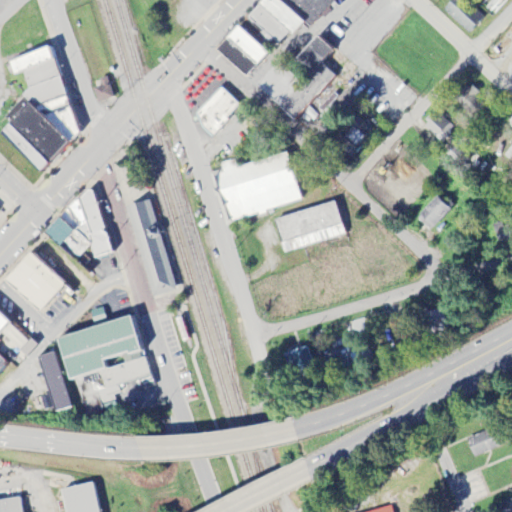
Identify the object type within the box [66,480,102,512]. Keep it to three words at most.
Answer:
building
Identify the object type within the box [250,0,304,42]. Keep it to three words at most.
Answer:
building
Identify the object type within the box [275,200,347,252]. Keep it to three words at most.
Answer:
barn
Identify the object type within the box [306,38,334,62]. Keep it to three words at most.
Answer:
house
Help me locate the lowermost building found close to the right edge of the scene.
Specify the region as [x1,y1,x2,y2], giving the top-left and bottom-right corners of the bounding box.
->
[471,430,499,456]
